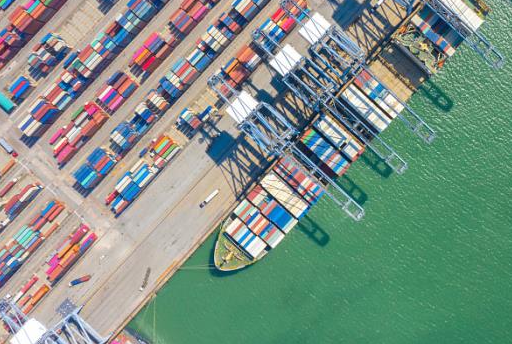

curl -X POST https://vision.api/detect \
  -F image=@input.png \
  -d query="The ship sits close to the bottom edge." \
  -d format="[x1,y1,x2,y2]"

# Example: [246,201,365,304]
[109,326,152,344]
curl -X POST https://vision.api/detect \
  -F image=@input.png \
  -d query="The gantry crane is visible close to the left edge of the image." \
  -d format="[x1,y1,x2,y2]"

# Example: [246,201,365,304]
[0,295,114,344]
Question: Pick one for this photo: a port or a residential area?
port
